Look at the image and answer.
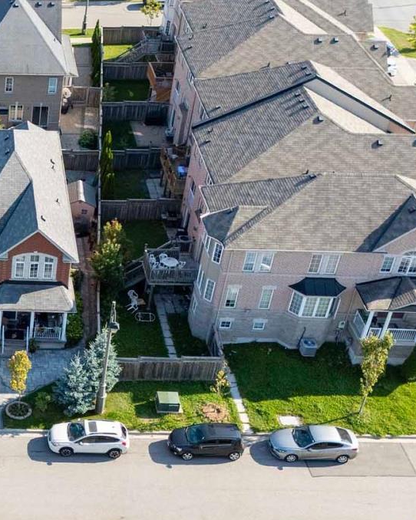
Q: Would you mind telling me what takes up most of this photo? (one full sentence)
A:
Most of the picture is covered by buildings.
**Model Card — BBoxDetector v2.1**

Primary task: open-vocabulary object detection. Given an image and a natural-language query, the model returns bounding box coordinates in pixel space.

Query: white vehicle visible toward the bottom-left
[44,413,133,456]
